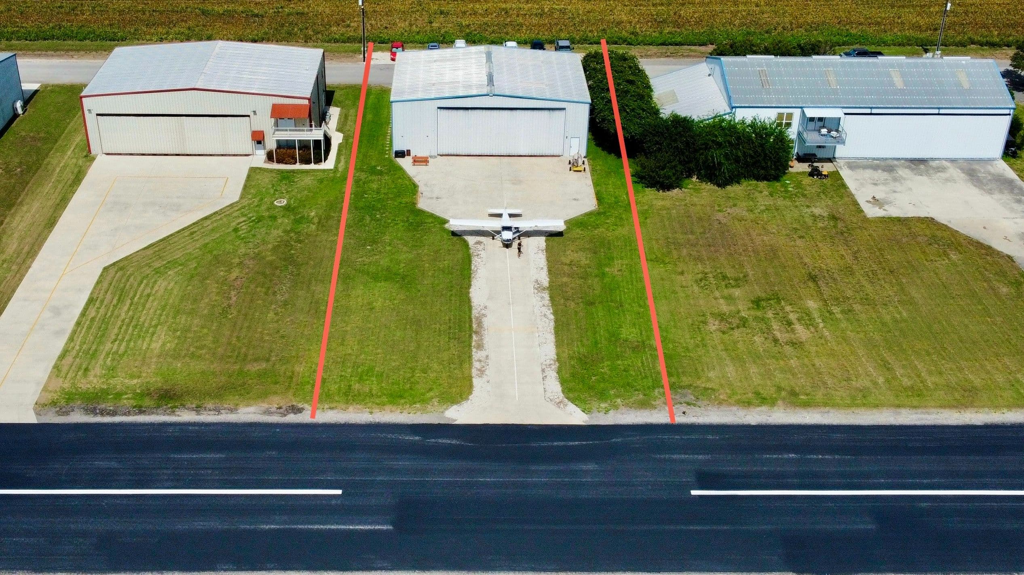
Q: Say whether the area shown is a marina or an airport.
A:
airport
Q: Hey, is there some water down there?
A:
No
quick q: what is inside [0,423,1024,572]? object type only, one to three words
runway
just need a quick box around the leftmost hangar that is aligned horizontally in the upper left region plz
[79,40,328,154]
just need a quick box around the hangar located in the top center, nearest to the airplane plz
[390,44,591,157]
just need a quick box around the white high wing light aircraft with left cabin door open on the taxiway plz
[450,199,564,249]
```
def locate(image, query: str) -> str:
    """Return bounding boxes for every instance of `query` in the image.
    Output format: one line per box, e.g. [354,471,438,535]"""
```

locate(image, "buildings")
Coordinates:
[79,40,328,154]
[0,53,24,131]
[704,54,1018,160]
[390,44,591,157]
